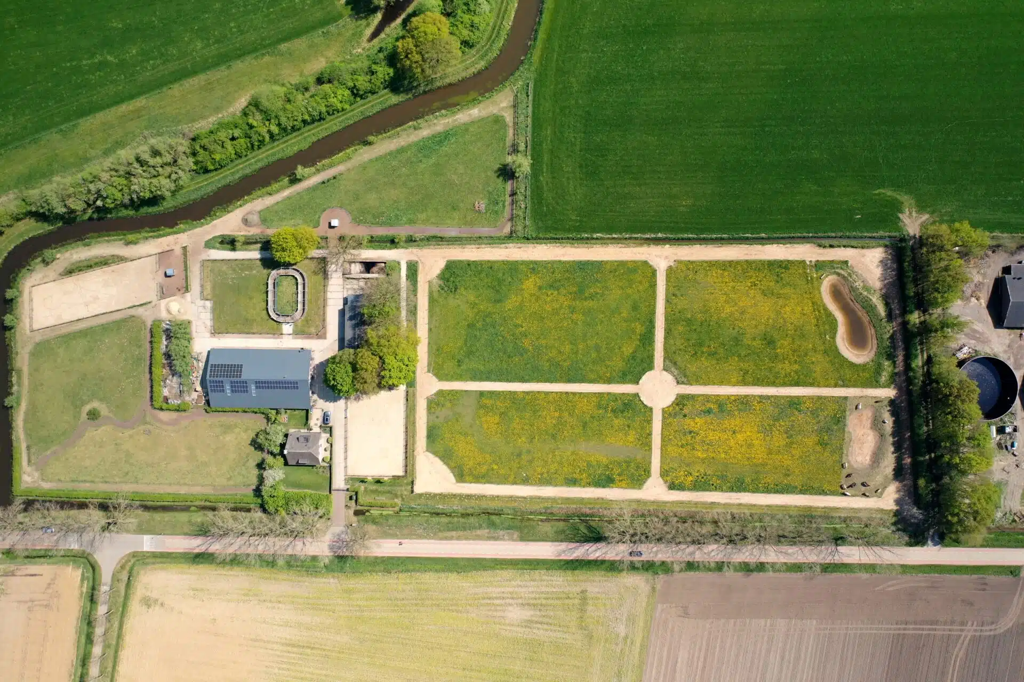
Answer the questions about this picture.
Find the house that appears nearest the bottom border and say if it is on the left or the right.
left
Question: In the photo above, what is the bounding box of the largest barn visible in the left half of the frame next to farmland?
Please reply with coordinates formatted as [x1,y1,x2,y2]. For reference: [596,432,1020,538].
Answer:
[207,348,313,409]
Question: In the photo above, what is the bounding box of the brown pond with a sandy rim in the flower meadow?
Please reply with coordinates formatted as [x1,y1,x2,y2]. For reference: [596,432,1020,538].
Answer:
[826,279,874,355]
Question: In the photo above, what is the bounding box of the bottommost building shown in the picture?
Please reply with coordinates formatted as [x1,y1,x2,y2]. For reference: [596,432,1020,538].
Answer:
[283,432,323,465]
